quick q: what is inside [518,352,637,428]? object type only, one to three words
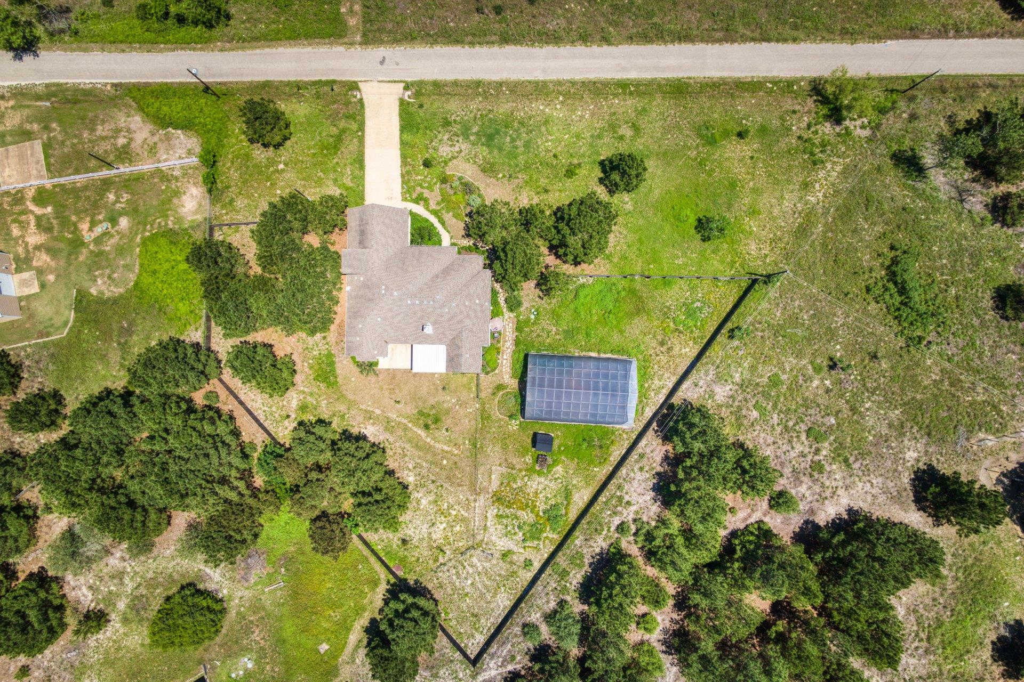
house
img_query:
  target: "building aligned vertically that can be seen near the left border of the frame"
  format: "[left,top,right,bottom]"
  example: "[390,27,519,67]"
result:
[0,252,29,322]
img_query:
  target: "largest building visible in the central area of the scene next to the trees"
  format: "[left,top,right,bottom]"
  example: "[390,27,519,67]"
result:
[341,202,491,373]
